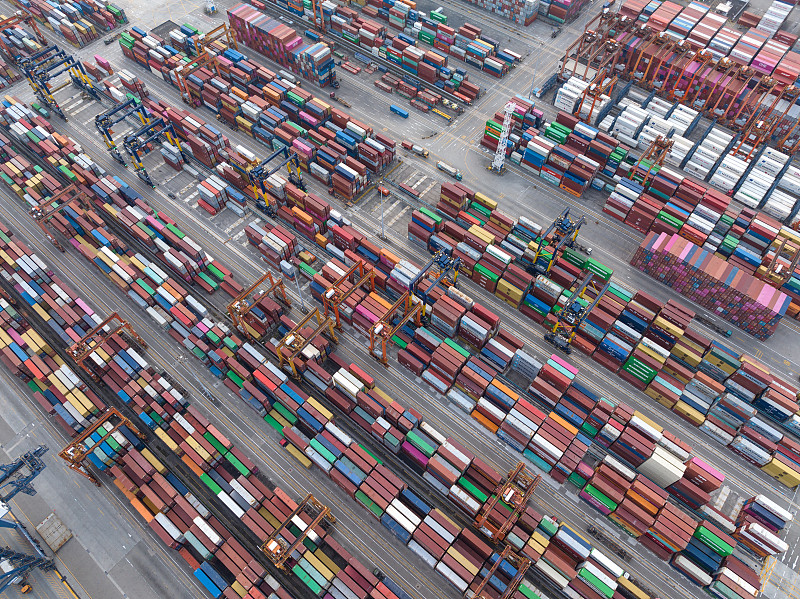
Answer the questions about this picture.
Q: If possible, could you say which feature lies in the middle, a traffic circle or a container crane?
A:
container crane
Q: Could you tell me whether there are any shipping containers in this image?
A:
Yes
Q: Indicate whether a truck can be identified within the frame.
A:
Yes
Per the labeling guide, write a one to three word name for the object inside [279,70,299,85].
vehicle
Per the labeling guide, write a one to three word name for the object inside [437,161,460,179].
vehicle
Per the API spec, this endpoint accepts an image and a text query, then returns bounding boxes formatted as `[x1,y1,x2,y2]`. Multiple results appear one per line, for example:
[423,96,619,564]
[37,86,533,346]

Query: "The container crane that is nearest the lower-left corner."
[0,437,59,587]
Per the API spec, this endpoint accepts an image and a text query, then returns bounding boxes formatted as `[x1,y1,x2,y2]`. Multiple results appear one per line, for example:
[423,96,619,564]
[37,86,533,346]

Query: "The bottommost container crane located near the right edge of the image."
[759,238,800,294]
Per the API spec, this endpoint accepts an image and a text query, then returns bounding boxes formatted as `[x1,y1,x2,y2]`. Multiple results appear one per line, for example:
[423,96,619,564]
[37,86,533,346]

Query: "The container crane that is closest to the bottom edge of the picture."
[465,540,533,599]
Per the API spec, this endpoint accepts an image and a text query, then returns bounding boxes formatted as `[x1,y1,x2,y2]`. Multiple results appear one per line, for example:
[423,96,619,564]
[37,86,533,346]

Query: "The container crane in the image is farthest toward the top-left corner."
[0,11,55,66]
